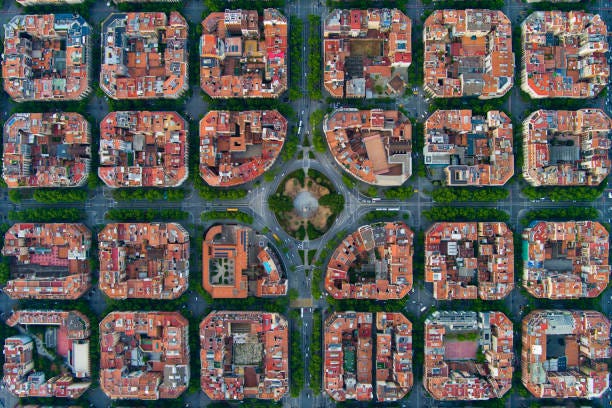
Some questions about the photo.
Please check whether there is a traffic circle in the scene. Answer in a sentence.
Yes, this view includes a traffic circle.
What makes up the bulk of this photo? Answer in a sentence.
The largest share of the image is taken up by buildings.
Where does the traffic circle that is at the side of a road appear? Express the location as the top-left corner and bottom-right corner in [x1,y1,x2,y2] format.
[267,167,345,241]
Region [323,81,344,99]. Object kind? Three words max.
building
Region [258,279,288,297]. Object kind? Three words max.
building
